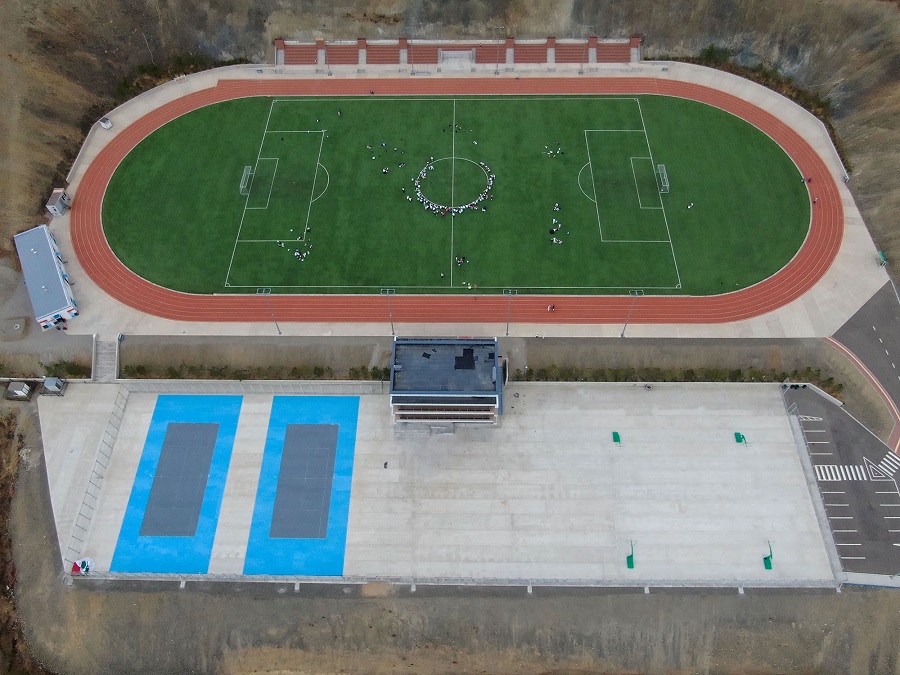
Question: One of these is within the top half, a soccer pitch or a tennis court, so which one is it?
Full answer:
Visible within the top half is a soccer pitch.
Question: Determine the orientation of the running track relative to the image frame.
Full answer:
In this picture, the running track is oriented horizontally.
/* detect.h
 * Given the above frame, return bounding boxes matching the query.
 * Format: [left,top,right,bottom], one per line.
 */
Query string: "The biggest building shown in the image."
[389,331,503,440]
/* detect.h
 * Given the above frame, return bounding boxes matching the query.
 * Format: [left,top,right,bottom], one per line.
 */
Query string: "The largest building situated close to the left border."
[12,225,77,325]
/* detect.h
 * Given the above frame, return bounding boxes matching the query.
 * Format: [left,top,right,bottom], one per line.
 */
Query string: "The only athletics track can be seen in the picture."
[69,77,846,323]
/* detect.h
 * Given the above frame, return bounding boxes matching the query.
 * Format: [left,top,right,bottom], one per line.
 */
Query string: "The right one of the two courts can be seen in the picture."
[243,396,360,576]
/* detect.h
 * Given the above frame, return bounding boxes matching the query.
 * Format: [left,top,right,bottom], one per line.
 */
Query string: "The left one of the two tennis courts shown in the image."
[110,396,243,573]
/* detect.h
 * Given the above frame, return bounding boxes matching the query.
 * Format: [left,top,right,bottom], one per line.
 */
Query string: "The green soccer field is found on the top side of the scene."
[101,94,811,294]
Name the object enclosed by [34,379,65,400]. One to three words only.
building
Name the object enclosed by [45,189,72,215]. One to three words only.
building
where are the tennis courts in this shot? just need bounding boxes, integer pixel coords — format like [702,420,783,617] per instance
[110,396,243,573]
[243,396,360,576]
